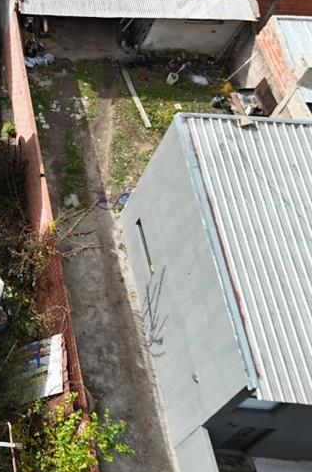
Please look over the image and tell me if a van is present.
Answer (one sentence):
No, there is no van in the image.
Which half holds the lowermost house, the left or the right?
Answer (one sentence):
The lowermost house sits on the right side.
